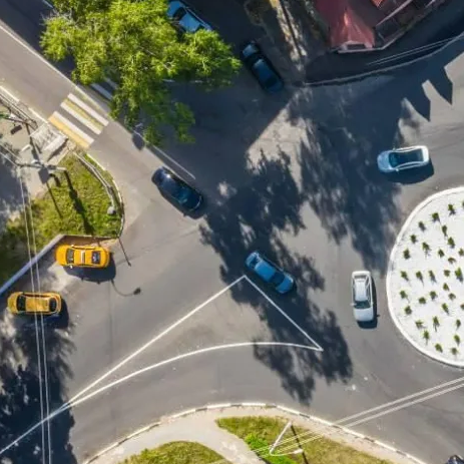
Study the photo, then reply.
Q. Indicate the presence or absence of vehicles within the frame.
Yes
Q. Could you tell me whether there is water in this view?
No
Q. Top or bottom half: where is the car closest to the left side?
bottom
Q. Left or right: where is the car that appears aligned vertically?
right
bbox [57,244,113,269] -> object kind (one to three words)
car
